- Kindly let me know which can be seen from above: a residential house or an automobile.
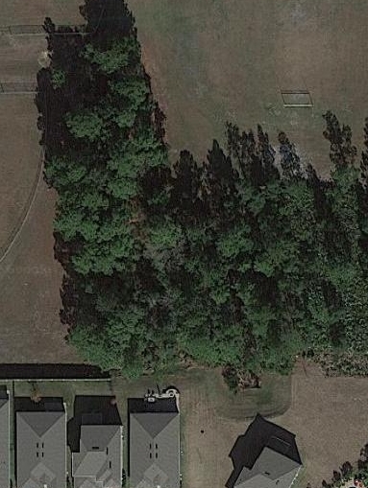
residential house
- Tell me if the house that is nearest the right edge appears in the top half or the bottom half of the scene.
bottom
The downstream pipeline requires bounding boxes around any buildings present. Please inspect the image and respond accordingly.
[17,413,66,488]
[0,399,10,488]
[129,414,180,488]
[237,439,303,488]
[72,426,123,488]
